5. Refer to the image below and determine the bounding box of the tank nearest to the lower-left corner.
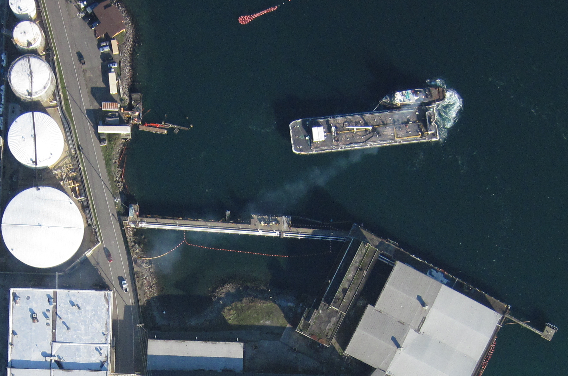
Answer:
[1,185,86,270]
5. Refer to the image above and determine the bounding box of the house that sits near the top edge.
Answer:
[93,0,126,39]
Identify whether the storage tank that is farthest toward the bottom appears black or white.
white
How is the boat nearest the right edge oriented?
from left to right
